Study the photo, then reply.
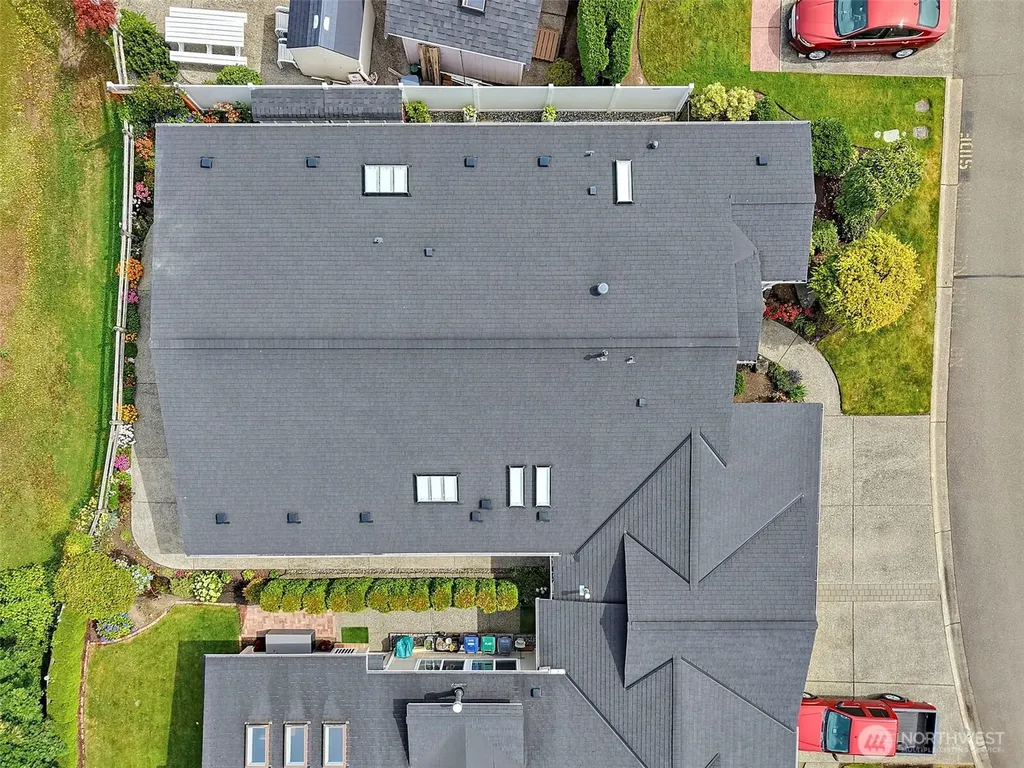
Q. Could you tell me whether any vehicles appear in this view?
Yes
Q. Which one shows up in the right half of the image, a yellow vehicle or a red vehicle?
red vehicle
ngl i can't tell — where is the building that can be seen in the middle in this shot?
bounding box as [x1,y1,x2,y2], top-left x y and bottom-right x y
[149,119,824,627]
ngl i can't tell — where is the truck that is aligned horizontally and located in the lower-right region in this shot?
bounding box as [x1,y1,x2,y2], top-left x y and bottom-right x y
[799,696,939,759]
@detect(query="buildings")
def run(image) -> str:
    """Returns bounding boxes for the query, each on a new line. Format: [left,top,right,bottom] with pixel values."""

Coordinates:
[149,119,824,627]
[386,0,539,86]
[287,0,370,86]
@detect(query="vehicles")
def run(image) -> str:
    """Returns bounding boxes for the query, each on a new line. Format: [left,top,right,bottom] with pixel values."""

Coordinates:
[799,696,939,759]
[783,0,952,59]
